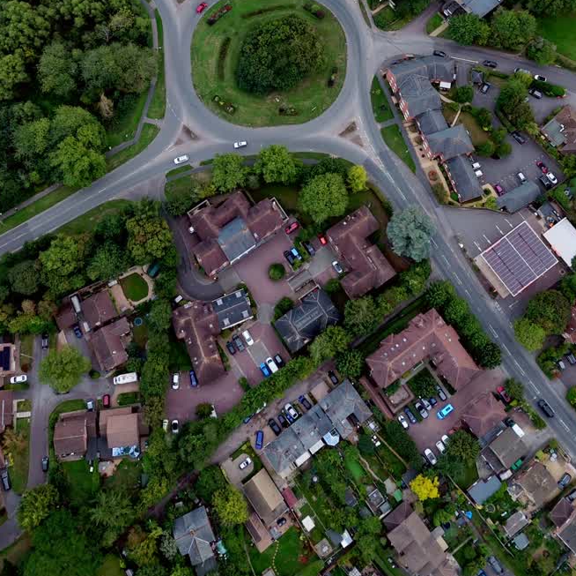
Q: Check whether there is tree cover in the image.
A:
Yes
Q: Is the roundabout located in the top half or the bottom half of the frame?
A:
top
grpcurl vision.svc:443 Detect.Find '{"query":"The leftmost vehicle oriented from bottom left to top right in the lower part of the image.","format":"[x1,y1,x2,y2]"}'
[238,456,253,470]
